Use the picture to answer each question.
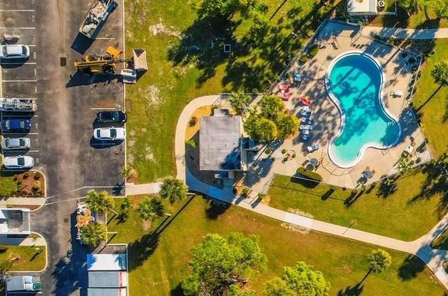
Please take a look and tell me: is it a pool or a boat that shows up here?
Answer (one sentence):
This aerial view contains a pool.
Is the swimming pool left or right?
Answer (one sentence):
The swimming pool sits on the right side.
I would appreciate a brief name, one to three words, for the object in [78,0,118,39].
trailer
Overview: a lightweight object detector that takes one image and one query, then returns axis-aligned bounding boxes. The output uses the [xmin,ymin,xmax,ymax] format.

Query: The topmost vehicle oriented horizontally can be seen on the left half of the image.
[0,44,29,59]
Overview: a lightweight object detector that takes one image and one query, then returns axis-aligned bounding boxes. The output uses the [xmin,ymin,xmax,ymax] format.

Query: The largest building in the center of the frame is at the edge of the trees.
[198,107,251,178]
